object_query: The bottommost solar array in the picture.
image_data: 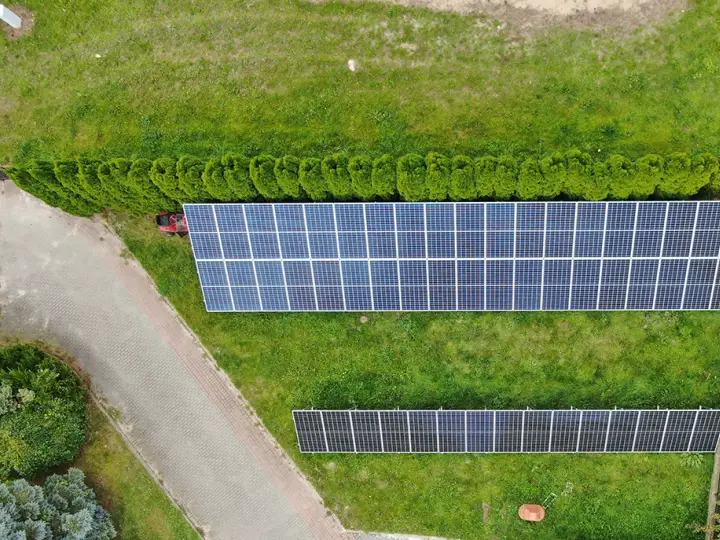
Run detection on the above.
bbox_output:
[292,406,720,453]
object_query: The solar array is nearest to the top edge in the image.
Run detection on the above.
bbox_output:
[184,200,720,311]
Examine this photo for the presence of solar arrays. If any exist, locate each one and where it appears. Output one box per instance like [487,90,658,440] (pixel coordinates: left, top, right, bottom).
[292,406,720,453]
[184,200,720,311]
